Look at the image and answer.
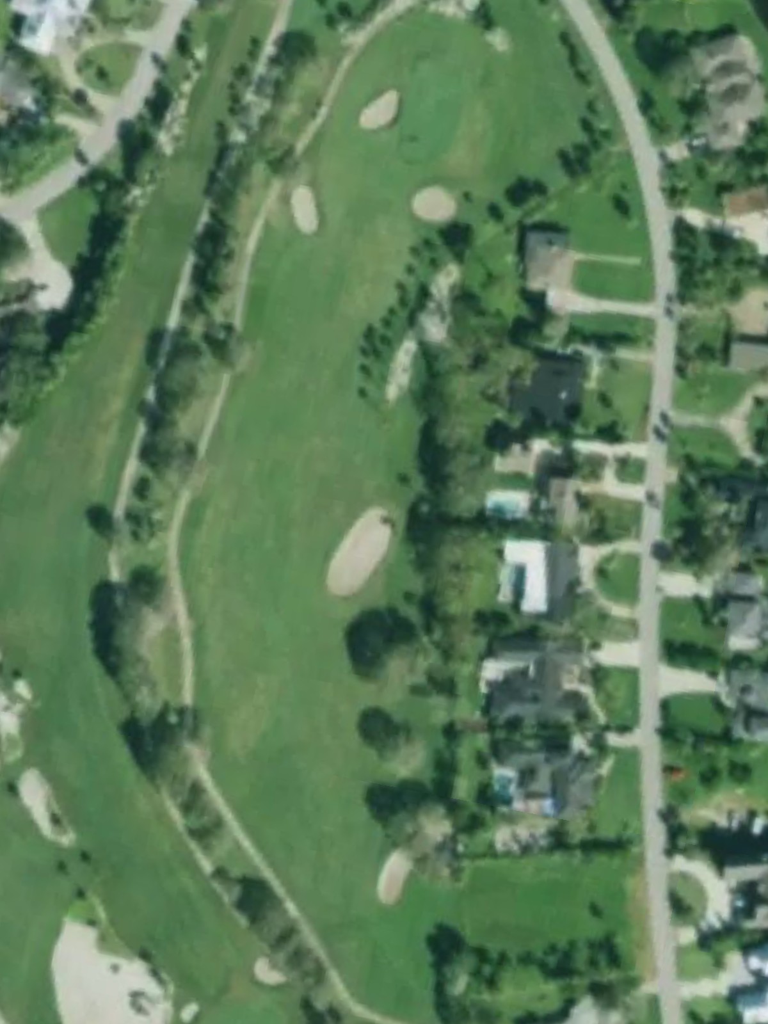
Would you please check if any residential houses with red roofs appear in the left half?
No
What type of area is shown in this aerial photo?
golf course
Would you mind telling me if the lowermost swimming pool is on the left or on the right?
right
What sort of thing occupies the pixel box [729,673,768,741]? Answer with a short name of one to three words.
house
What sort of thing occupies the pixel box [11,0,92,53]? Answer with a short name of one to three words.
house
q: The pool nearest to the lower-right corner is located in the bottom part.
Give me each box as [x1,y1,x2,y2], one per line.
[494,769,516,808]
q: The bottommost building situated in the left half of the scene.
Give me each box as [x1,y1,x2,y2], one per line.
[0,59,34,119]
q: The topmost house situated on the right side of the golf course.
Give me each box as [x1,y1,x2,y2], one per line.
[700,34,767,150]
